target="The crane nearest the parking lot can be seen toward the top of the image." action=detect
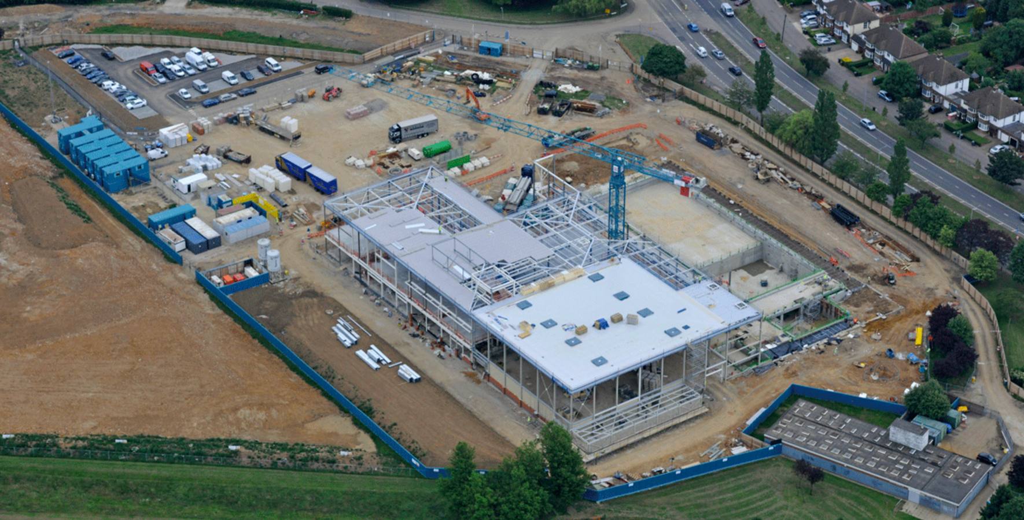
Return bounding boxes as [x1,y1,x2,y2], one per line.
[326,64,706,241]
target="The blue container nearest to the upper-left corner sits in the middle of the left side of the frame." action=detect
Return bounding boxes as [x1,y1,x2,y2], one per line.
[144,202,196,230]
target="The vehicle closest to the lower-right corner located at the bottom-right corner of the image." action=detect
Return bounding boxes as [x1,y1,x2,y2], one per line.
[975,450,999,467]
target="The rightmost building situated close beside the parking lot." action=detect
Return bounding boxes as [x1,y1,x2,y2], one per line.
[318,153,769,462]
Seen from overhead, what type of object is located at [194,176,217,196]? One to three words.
shed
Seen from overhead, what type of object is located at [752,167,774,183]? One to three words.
vehicle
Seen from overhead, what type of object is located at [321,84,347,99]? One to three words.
work vehicle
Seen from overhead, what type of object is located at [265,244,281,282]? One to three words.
silo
